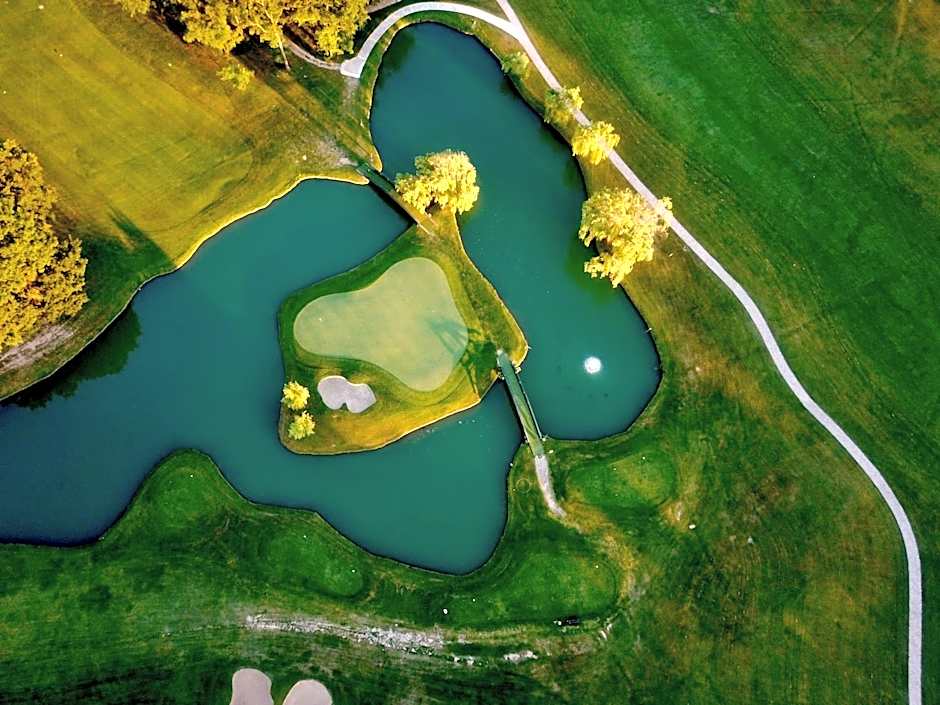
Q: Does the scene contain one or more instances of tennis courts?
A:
No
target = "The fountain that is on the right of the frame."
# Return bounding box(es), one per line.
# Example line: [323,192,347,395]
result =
[580,354,604,375]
